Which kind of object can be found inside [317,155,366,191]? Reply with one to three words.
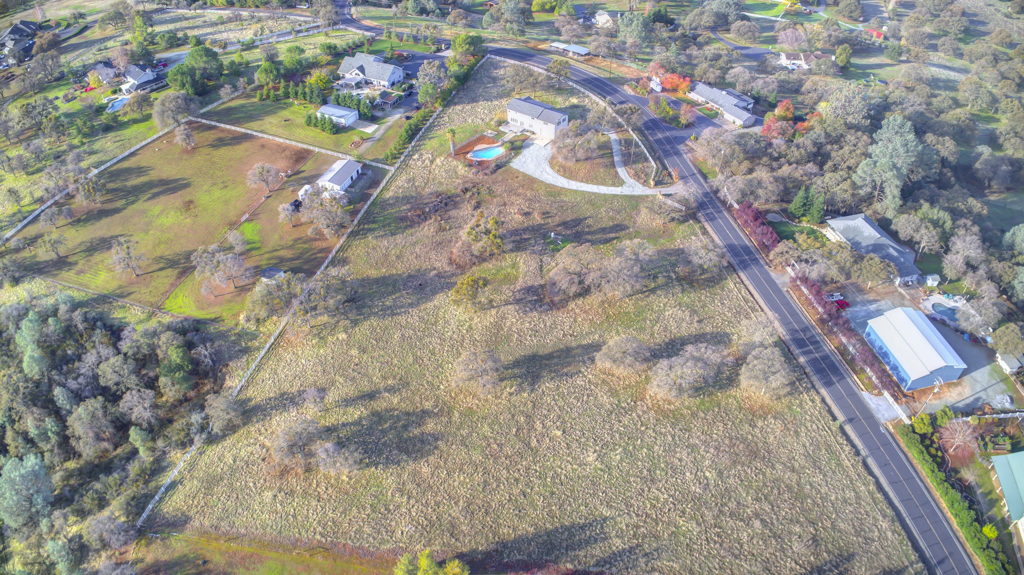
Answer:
barn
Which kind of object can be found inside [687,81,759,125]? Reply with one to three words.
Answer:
house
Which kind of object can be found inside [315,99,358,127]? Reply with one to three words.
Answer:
building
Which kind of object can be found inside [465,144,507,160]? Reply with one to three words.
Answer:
swimming pool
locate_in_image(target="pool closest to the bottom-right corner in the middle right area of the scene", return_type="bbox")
[921,295,995,339]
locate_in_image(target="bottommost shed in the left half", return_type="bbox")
[259,261,284,282]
